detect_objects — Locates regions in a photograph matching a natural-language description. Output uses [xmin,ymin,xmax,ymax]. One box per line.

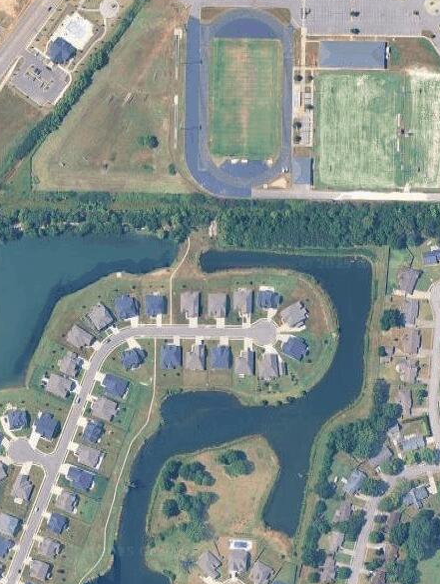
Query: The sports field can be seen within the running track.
[210,38,283,156]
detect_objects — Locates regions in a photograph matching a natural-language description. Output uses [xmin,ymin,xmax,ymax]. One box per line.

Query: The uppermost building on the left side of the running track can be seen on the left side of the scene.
[47,35,78,63]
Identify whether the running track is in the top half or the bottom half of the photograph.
top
